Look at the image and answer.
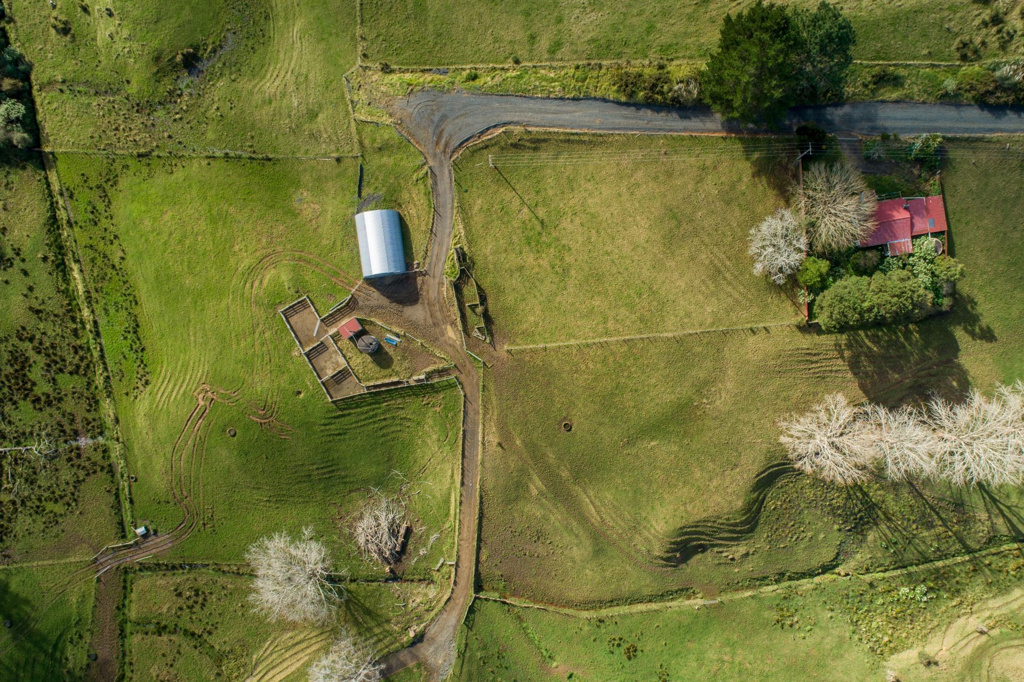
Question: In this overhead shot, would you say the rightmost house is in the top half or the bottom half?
top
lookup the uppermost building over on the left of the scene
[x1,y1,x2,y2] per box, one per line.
[356,209,406,278]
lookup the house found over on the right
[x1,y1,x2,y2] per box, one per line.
[849,191,948,256]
